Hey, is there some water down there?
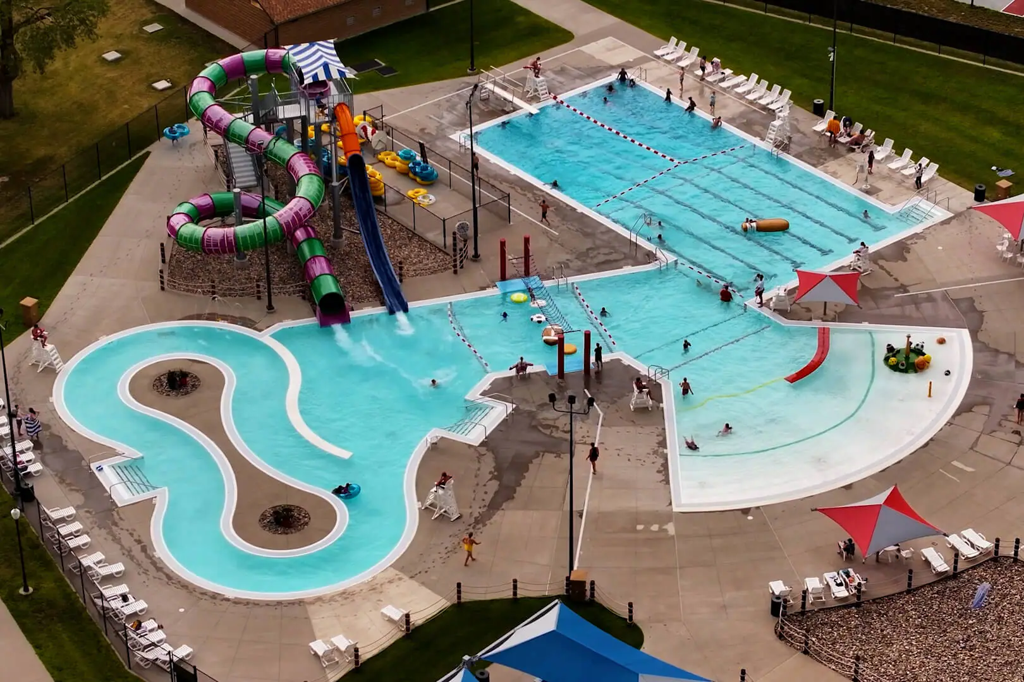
Yes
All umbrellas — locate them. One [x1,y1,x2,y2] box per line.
[791,270,863,325]
[968,192,1024,251]
[811,485,951,567]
